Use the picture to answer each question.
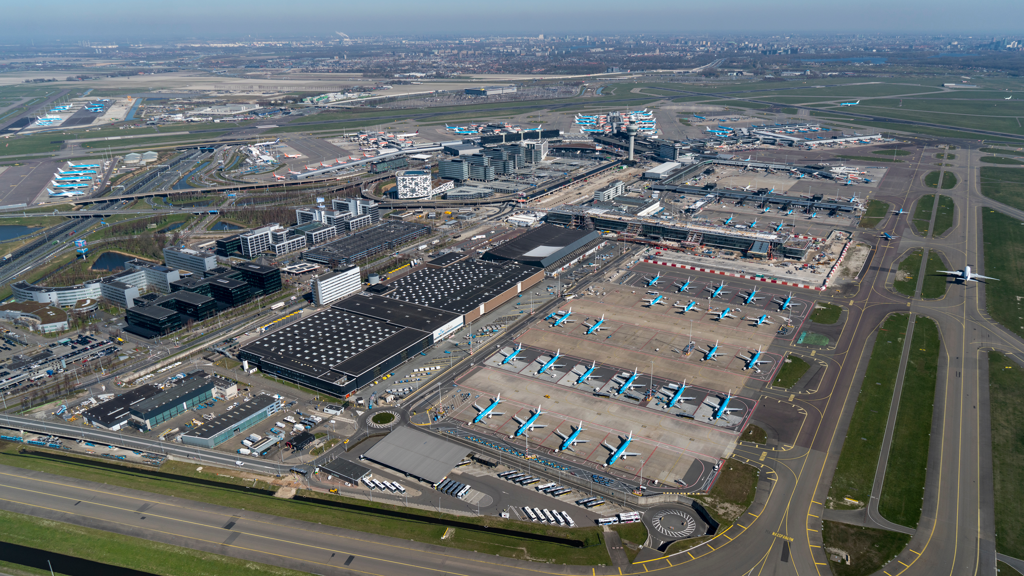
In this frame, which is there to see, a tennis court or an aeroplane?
aeroplane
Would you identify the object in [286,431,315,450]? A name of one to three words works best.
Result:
building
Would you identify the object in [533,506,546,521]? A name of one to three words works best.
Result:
vehicle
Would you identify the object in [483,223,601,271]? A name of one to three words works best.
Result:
hangar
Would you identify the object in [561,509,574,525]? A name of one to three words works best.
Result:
vehicle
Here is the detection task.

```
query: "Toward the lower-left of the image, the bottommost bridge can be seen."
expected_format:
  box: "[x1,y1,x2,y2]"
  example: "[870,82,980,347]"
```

[0,419,297,479]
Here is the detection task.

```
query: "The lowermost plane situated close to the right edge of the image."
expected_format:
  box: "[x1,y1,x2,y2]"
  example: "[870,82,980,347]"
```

[937,265,998,283]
